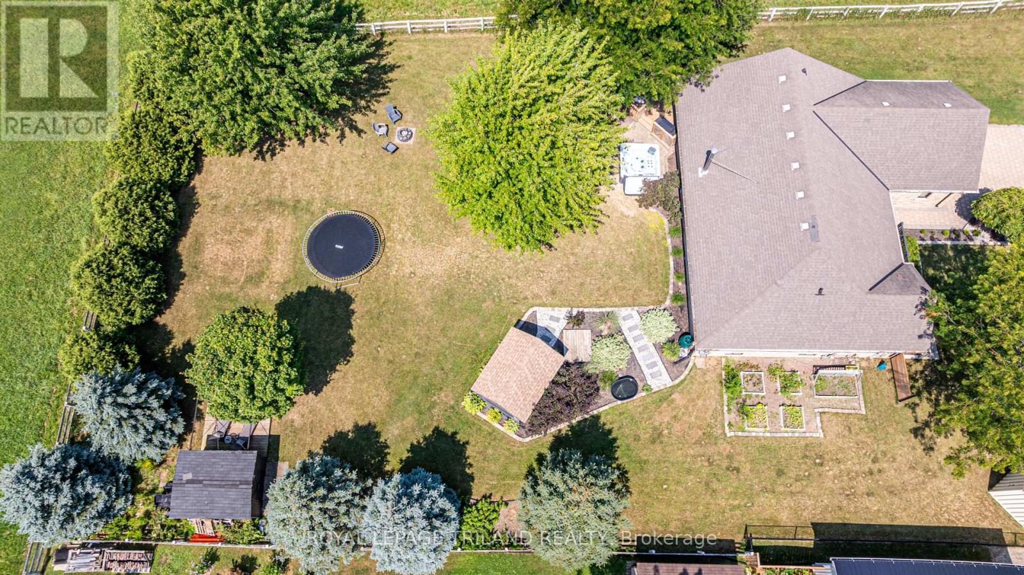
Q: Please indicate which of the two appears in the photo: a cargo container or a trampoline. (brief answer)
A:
trampoline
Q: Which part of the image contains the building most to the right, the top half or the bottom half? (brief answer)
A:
bottom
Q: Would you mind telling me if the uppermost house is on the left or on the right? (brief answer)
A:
right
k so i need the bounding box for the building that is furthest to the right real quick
[985,461,1024,536]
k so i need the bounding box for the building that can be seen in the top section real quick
[671,47,992,358]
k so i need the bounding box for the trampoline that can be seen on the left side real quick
[303,210,383,288]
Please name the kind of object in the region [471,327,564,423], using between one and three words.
shed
